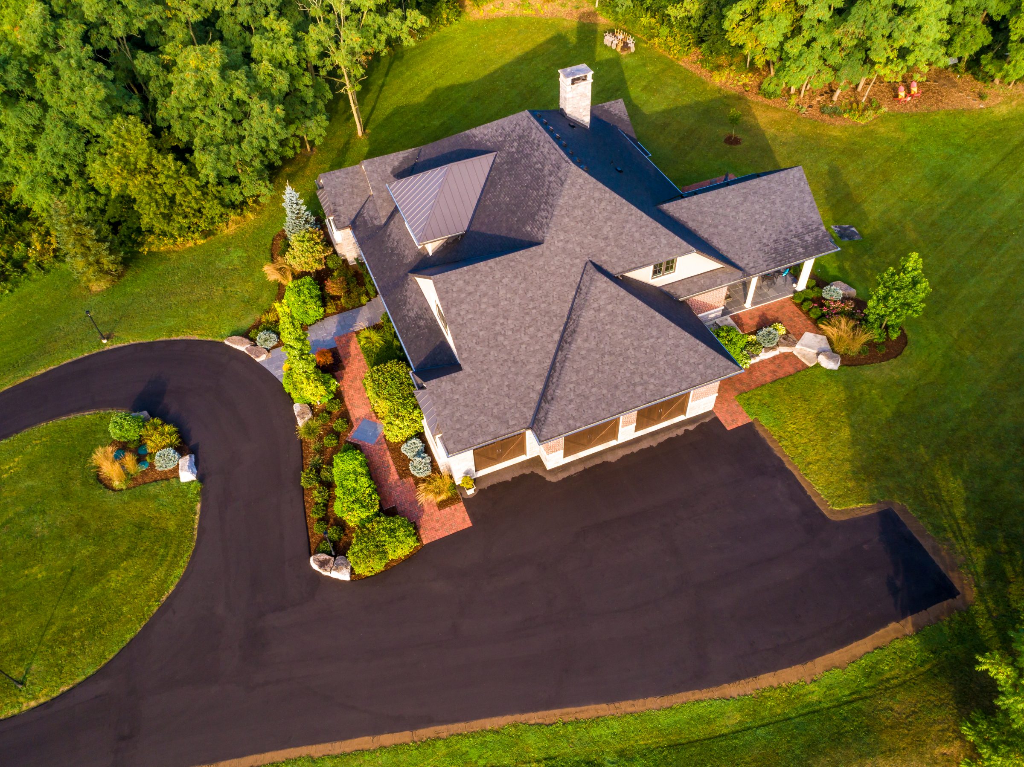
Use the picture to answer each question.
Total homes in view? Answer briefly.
one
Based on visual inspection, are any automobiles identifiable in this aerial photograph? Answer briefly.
No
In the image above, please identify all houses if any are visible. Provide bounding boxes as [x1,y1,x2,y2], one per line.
[303,64,843,486]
